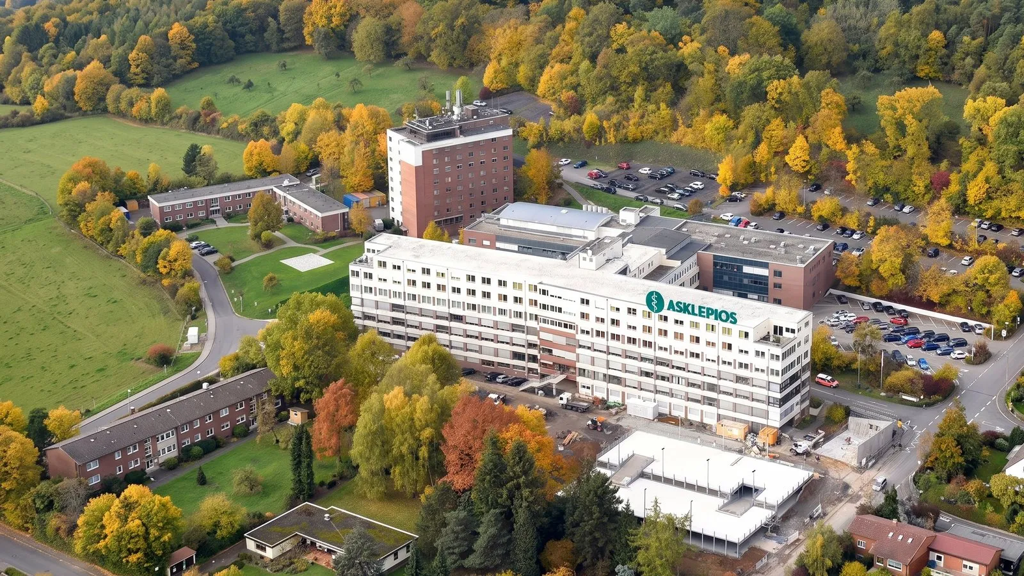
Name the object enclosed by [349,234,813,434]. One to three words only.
building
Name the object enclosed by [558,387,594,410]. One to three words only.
truck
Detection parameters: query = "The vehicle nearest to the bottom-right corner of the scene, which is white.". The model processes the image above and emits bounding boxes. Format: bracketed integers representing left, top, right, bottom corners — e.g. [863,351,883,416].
[871,473,888,491]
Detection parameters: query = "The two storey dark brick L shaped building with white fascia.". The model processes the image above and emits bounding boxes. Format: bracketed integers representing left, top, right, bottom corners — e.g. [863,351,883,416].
[145,170,353,231]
